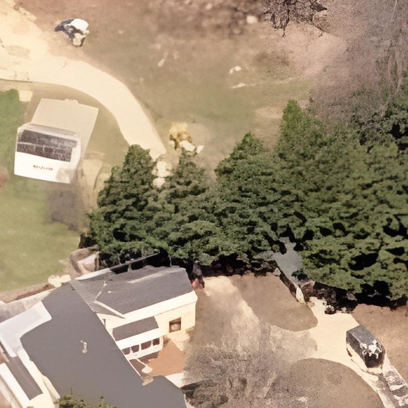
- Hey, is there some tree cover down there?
Yes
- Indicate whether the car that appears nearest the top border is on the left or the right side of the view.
left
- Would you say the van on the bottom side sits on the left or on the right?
right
